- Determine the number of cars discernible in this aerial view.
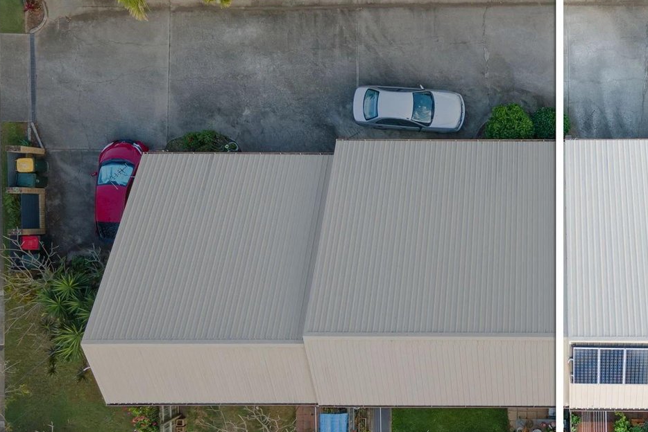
two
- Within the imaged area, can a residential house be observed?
Yes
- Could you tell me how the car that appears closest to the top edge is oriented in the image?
from side to side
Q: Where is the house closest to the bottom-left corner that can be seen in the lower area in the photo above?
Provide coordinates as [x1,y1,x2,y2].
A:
[81,149,335,409]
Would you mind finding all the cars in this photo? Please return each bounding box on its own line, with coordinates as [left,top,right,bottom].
[96,142,146,238]
[355,86,464,132]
